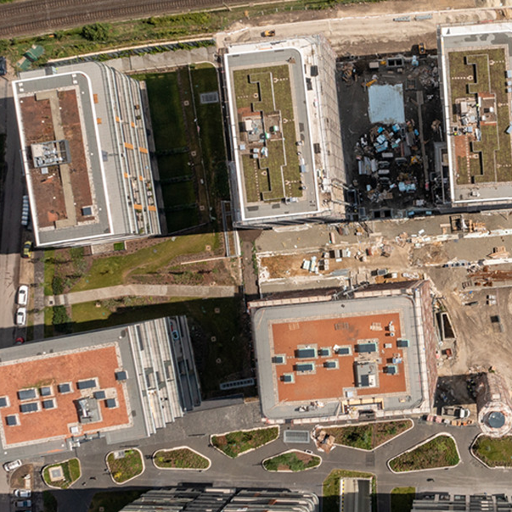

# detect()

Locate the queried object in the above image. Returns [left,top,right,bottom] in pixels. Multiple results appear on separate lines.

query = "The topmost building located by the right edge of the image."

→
[430,12,512,216]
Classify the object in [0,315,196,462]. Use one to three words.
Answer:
building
